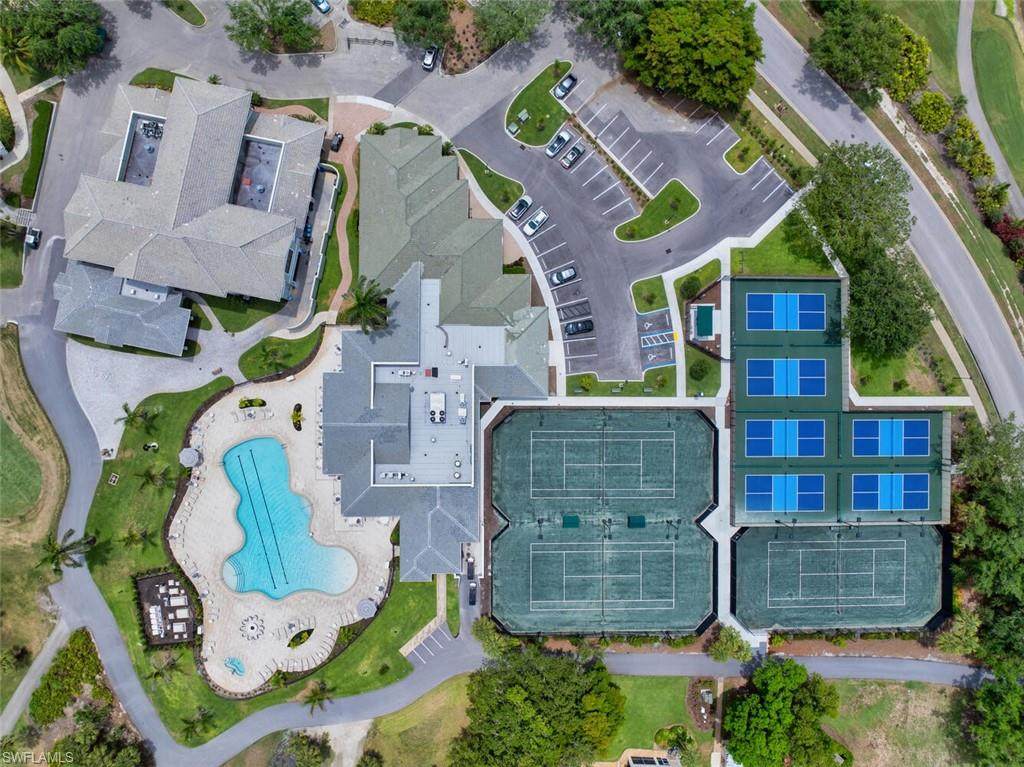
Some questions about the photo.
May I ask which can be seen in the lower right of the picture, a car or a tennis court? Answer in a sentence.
You can see a tennis court in the lower right of the picture.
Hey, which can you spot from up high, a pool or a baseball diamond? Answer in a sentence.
This aerial view contains a pool.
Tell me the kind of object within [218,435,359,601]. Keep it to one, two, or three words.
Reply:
swimming pool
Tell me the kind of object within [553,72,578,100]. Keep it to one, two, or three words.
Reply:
car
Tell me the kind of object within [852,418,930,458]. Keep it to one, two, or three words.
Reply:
sports court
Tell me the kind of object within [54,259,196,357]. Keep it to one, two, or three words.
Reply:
building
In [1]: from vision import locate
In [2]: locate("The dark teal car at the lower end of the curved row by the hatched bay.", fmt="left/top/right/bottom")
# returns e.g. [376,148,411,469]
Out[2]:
[564,319,594,335]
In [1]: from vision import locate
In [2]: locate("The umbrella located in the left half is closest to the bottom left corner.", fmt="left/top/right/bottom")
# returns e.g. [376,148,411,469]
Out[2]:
[180,448,198,466]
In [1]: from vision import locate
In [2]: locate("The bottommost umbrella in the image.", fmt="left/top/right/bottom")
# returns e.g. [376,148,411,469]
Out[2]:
[358,599,376,617]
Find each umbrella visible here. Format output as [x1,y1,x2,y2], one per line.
[358,599,376,617]
[180,448,198,466]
